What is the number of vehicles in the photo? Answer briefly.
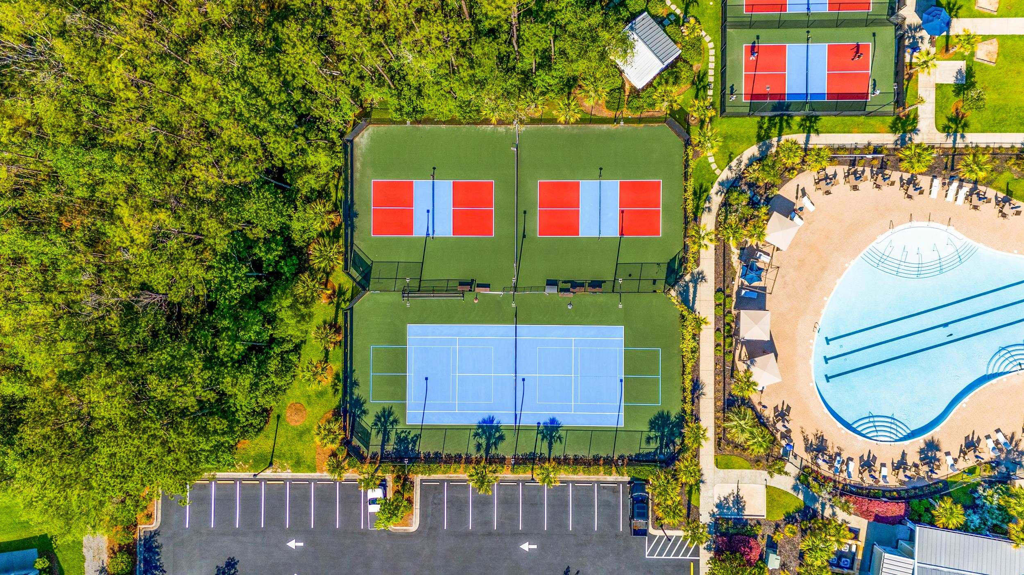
two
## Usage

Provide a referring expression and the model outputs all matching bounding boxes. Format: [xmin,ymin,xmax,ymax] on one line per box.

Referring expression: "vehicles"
[363,482,387,532]
[628,481,652,539]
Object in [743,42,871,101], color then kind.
red sports court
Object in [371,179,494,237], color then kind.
red sports court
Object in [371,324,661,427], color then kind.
blue tennis court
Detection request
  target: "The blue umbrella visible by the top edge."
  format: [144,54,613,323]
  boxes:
[920,8,948,36]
